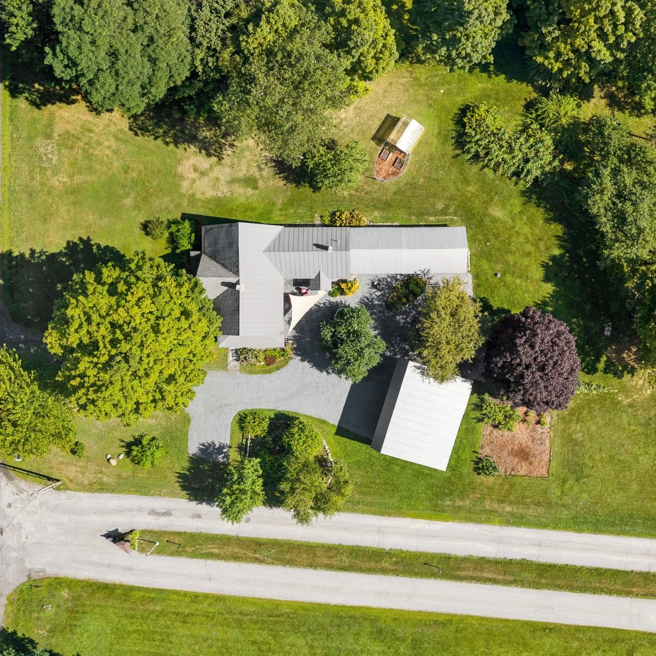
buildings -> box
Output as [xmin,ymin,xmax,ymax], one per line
[387,114,425,156]
[190,223,468,347]
[370,359,473,472]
